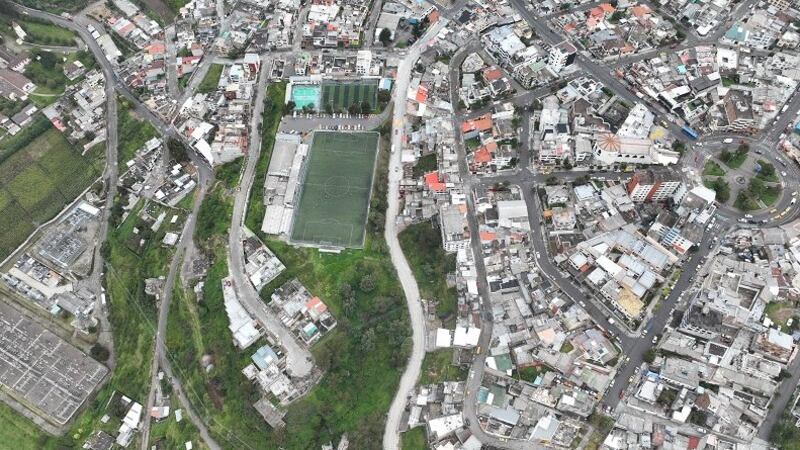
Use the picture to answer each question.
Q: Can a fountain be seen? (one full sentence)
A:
No, there appears to be no fountain in this shot.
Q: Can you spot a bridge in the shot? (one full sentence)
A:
No, I can't see a single bridge in this photo.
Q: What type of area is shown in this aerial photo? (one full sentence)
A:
This image shows a residential area.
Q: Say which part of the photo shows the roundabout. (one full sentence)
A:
You can find the roundabout in the right area of the picture.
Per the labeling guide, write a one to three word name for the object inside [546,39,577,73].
building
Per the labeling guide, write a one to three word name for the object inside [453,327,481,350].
house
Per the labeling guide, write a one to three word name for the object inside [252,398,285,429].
house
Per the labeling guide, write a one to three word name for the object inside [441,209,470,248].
building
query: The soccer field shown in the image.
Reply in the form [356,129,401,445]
[291,131,379,247]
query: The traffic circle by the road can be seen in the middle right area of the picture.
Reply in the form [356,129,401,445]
[685,137,800,227]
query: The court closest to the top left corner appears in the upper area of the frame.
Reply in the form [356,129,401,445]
[292,84,321,110]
